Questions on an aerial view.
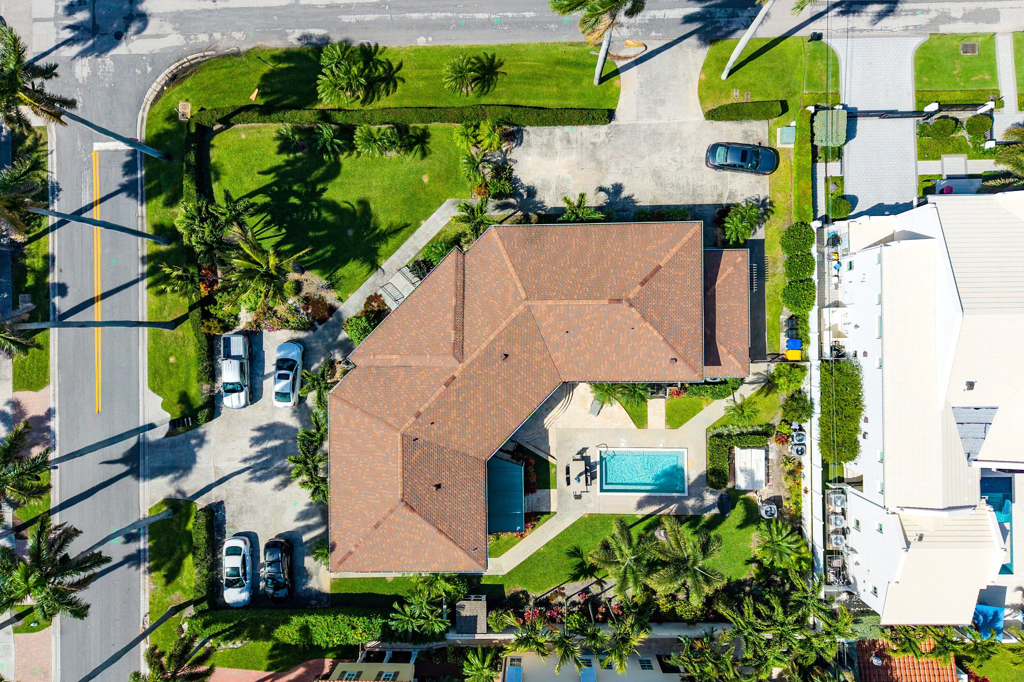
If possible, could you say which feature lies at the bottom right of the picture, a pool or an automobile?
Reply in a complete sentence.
What appears at the bottom right of the picture is a pool.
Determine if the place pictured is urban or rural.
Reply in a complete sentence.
It looks urban.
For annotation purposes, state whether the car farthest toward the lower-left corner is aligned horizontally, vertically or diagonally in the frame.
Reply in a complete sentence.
The car farthest toward the lower-left corner has been laid out vertically relative to the frame.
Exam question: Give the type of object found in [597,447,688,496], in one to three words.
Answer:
swimming pool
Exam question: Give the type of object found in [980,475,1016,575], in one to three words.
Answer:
swimming pool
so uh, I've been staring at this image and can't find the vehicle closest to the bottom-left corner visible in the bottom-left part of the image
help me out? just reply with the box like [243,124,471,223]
[219,536,255,607]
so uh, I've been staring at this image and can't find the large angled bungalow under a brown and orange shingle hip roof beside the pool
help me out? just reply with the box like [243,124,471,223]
[326,219,752,575]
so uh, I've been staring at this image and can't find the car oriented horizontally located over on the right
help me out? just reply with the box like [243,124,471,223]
[704,141,779,176]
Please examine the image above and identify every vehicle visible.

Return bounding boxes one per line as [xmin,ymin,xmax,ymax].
[271,342,305,408]
[260,536,293,603]
[219,536,255,607]
[216,333,254,409]
[704,141,779,176]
